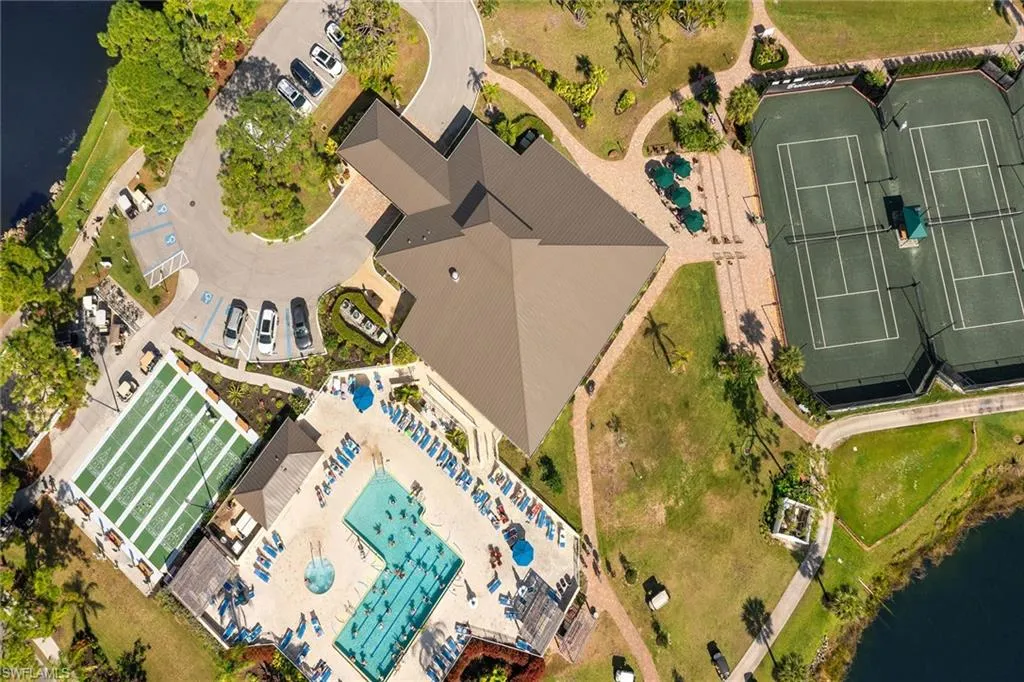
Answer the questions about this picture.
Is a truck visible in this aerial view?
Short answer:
No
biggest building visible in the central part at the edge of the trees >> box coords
[337,98,667,457]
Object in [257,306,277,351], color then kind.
white car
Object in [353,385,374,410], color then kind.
blue umbrella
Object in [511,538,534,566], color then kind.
blue umbrella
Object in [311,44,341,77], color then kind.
white car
